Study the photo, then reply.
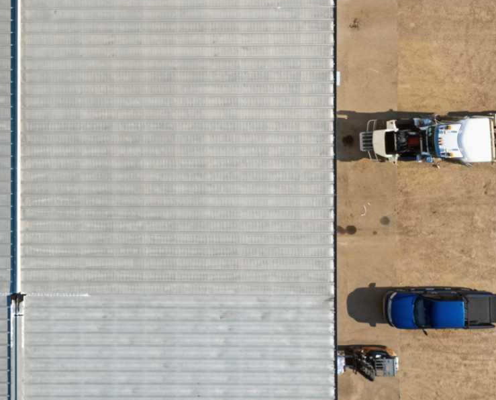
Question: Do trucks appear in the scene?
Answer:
Yes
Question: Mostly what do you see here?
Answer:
buildings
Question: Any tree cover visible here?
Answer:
No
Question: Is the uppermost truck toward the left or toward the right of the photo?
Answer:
right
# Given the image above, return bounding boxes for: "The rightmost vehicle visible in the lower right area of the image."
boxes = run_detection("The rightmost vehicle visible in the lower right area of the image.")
[379,288,496,336]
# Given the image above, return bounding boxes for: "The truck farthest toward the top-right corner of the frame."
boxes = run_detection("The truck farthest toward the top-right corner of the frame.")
[356,113,496,171]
